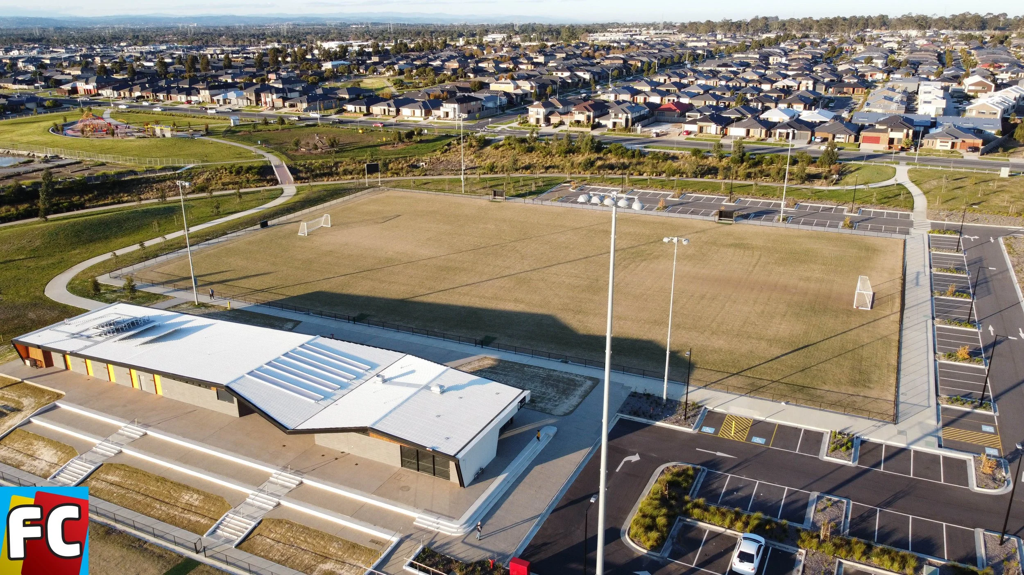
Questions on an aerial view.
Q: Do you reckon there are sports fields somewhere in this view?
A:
Yes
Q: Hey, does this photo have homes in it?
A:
Yes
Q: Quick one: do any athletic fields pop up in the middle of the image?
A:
Yes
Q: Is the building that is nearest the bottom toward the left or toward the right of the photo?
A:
left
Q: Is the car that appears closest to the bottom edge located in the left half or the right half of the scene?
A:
right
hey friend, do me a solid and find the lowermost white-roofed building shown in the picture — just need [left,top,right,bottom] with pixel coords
[11,302,530,490]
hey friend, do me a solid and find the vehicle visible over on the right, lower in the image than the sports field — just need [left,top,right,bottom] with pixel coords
[731,531,767,575]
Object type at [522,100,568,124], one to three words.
house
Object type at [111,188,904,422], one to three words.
sports field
